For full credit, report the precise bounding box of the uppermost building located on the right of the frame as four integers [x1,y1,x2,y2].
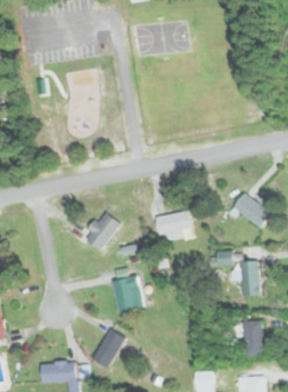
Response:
[226,192,267,225]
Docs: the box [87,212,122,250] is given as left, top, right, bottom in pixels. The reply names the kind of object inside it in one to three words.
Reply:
house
